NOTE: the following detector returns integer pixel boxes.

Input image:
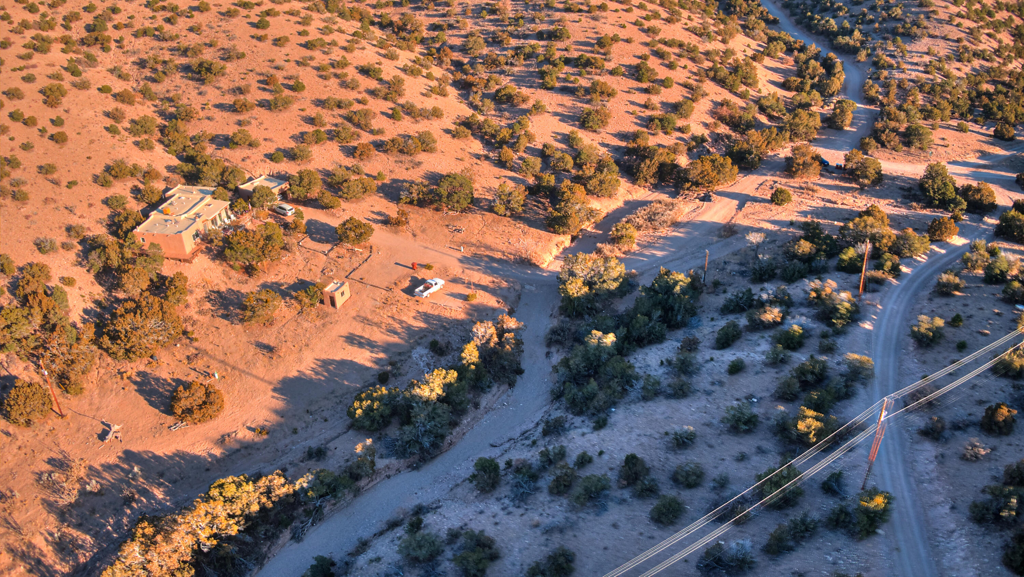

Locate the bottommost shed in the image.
[324,281,348,308]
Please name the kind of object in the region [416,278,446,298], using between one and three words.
vehicle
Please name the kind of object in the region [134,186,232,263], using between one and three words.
house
